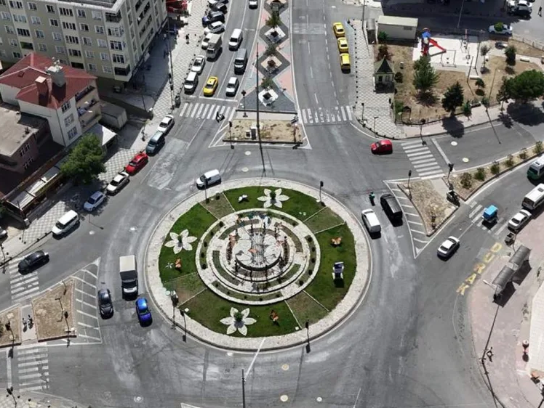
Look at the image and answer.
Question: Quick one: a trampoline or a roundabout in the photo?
roundabout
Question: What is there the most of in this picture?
paved ground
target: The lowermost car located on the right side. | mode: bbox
[435,236,460,261]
